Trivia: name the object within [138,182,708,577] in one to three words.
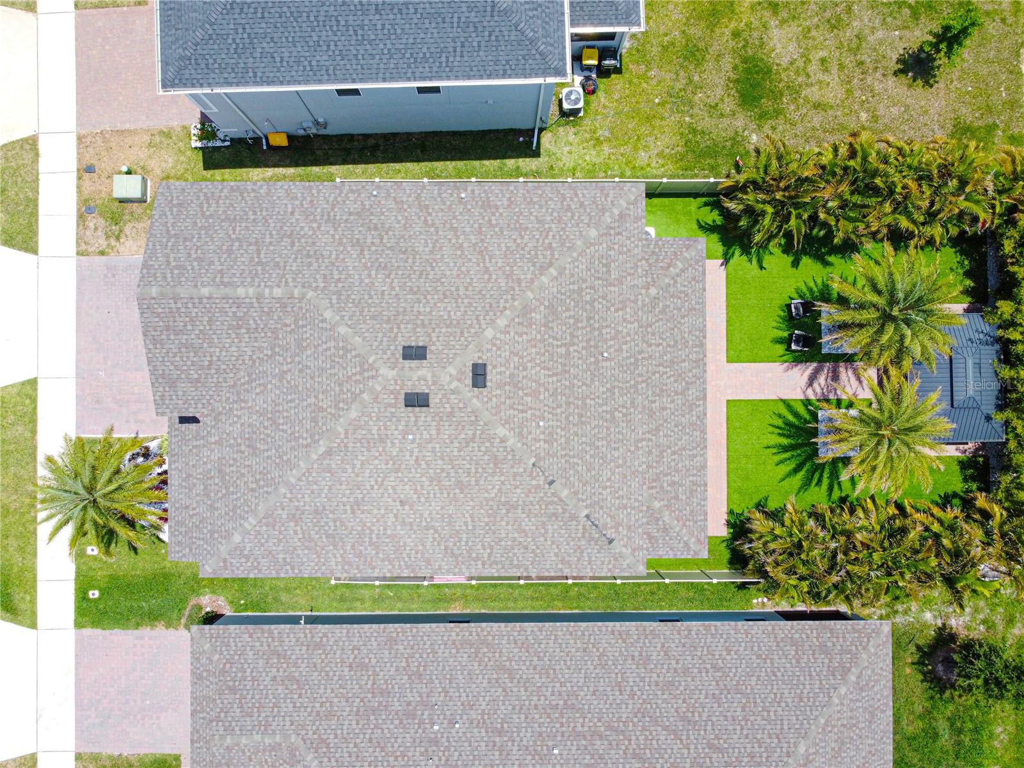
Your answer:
house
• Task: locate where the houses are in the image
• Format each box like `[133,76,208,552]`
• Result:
[152,0,648,151]
[190,609,891,768]
[138,182,708,577]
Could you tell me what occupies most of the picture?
buildings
